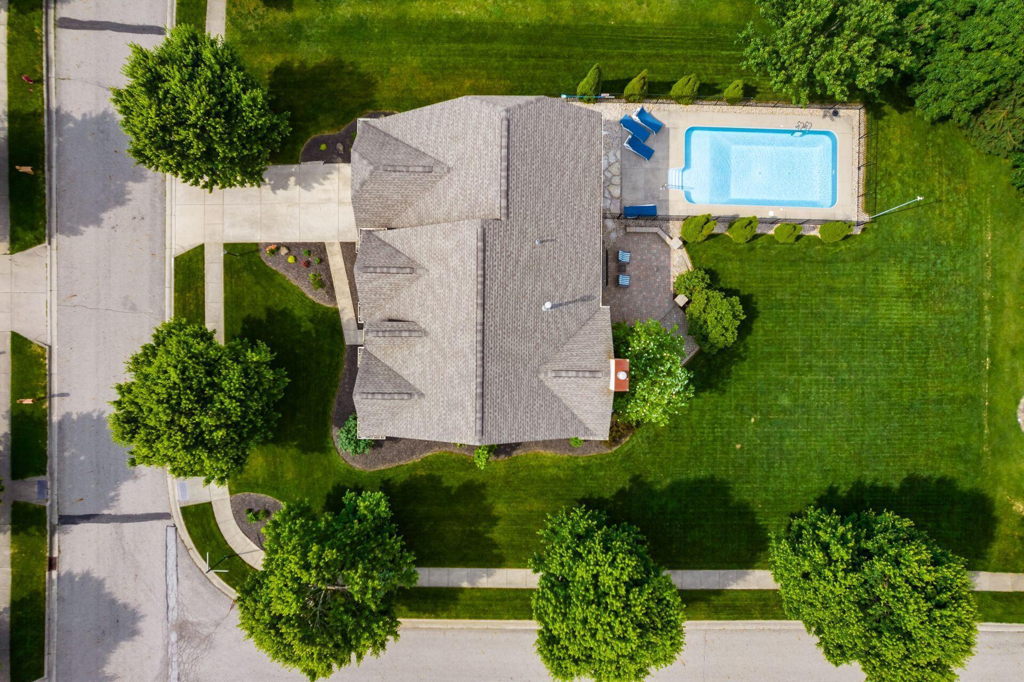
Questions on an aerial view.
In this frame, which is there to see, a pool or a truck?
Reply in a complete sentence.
It is a pool that can be seen here.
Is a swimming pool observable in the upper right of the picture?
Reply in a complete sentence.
Yes, looking in the upper right of the picture, one can make out a swimming pool.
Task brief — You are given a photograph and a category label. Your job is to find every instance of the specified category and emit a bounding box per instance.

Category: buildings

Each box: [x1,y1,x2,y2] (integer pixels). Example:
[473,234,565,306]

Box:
[350,96,629,446]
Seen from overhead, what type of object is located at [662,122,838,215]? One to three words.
swimming pool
